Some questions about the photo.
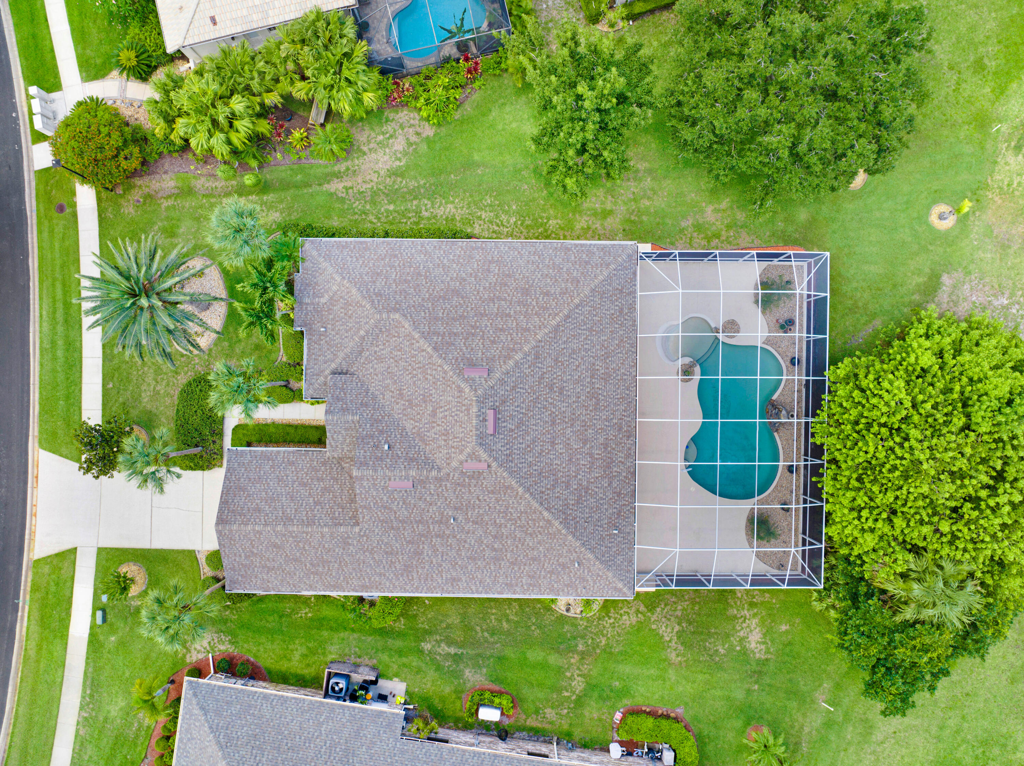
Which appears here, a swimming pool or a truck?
swimming pool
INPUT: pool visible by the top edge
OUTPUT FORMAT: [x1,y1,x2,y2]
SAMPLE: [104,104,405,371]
[390,0,486,57]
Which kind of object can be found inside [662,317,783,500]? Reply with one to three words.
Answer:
swimming pool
